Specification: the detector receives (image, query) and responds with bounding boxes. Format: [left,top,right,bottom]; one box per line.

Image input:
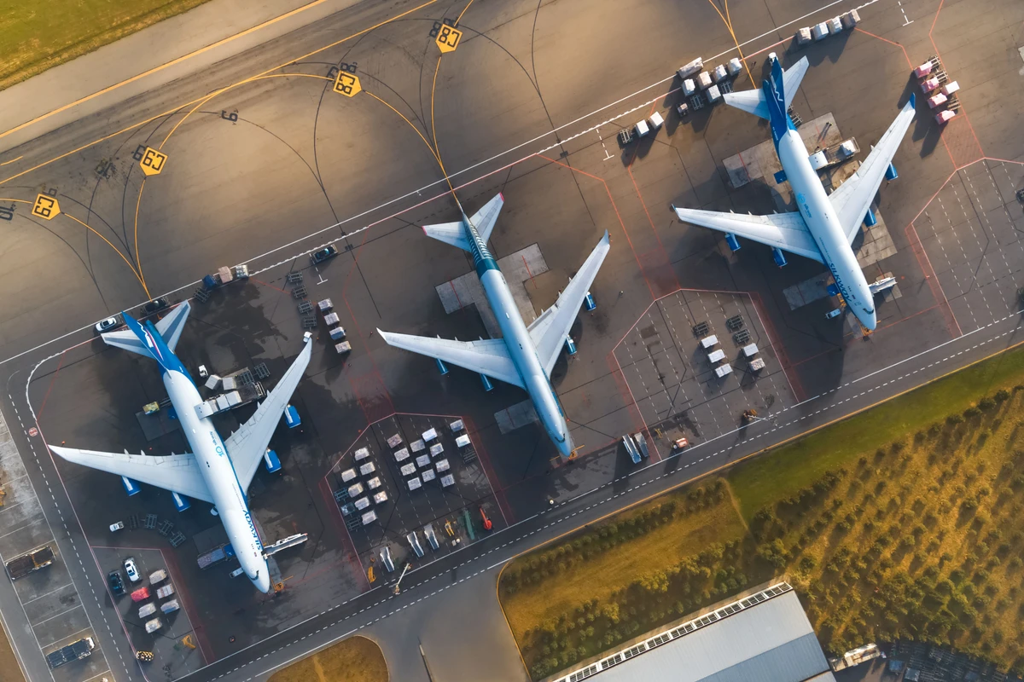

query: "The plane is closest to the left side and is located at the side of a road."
[44,299,309,590]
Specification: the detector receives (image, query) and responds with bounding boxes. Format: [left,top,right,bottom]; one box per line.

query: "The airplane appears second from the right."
[376,193,611,457]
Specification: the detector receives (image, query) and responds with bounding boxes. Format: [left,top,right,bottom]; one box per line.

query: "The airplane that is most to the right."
[668,57,914,329]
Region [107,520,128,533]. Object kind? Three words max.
vehicle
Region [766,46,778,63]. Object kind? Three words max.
vehicle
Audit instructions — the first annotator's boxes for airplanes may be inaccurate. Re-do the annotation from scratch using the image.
[668,57,914,329]
[376,193,611,457]
[44,299,309,590]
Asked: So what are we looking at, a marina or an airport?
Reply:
airport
